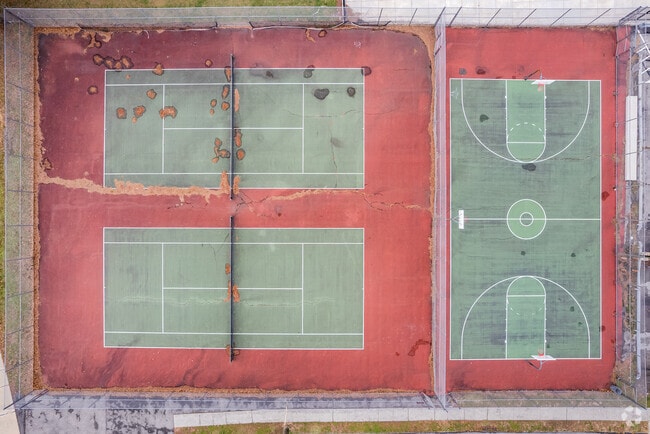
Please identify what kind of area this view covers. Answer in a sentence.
What you see here is a sports ground.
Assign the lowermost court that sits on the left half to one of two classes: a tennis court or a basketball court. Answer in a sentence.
It turns out the lowermost court that sits on the left half is a tennis court.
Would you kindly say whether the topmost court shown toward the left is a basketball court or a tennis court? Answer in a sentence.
It turns out the topmost court shown toward the left is a tennis court.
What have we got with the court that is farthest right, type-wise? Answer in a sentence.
What you see as the court that is farthest right is a basketball court.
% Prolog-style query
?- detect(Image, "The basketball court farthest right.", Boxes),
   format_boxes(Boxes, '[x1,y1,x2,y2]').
[435,27,632,391]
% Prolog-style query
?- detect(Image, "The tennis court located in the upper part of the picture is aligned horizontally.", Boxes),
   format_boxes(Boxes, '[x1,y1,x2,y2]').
[103,67,365,189]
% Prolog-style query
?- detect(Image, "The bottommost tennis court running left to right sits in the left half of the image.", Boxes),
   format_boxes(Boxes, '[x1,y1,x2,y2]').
[103,228,364,350]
